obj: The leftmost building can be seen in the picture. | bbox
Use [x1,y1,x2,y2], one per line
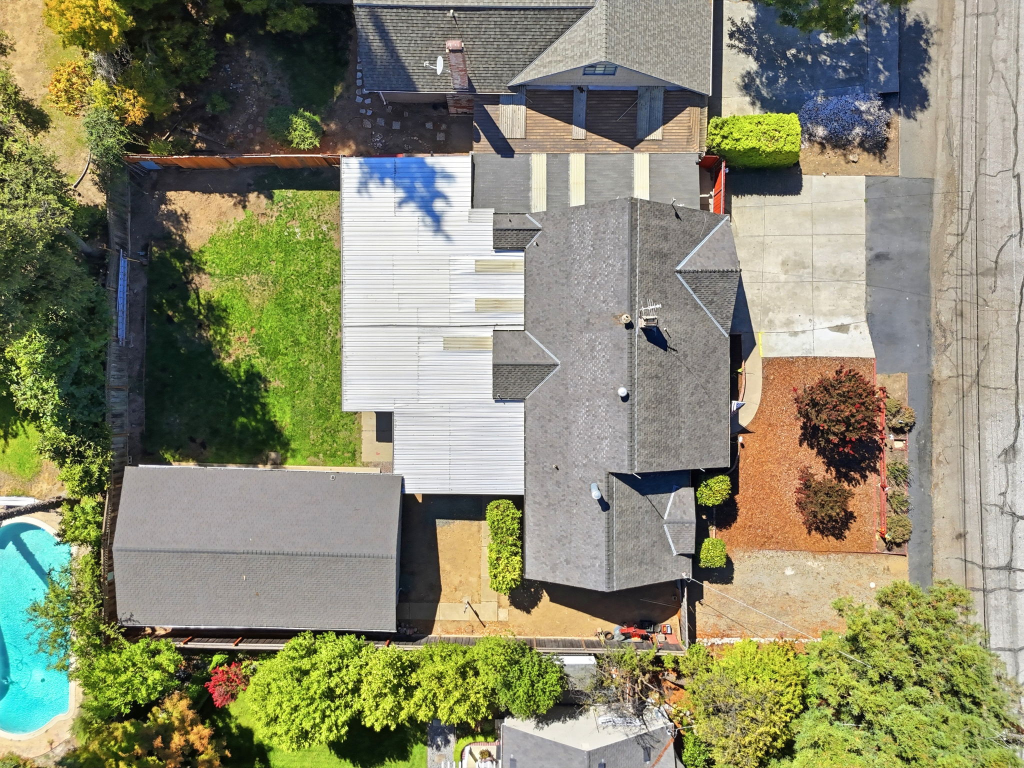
[111,465,404,634]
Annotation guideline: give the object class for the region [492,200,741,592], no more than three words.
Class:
house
